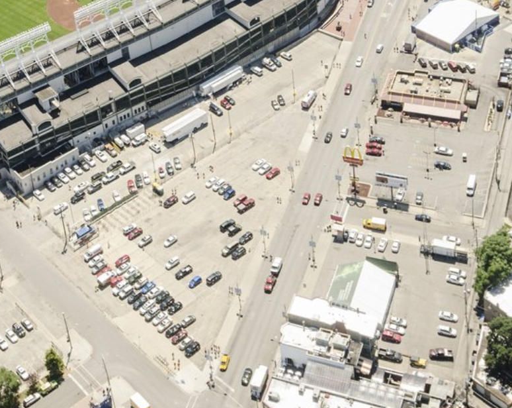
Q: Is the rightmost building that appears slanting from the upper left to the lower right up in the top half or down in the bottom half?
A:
bottom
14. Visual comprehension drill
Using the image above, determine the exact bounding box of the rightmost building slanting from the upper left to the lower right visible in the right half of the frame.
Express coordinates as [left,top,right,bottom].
[473,372,511,408]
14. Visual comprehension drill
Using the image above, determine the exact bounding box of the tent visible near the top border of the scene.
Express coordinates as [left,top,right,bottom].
[412,0,498,55]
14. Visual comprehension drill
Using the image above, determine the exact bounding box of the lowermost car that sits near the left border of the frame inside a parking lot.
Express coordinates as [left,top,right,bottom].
[23,393,41,407]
